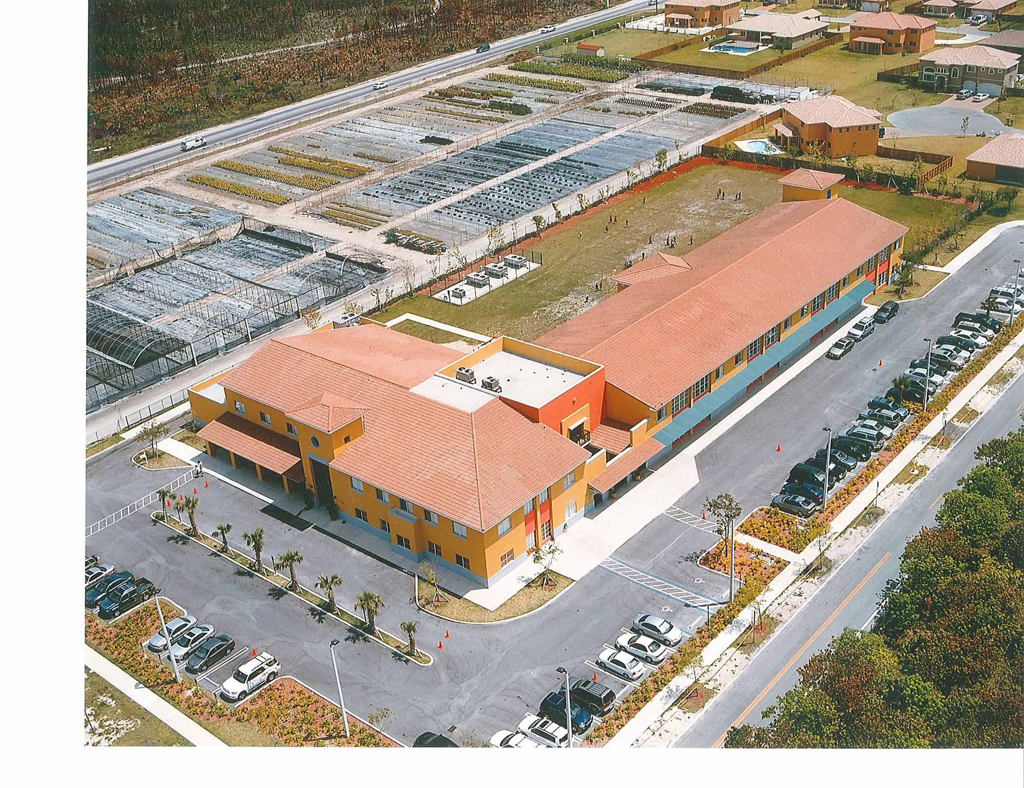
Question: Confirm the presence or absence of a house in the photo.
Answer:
Yes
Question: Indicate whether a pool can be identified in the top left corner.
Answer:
No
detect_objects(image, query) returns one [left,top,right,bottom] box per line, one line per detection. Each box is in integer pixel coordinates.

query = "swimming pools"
[733,138,789,154]
[698,40,773,56]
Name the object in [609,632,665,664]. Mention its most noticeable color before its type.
white car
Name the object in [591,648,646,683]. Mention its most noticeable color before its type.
white car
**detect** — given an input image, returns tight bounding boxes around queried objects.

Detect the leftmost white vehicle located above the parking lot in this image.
[180,136,206,149]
